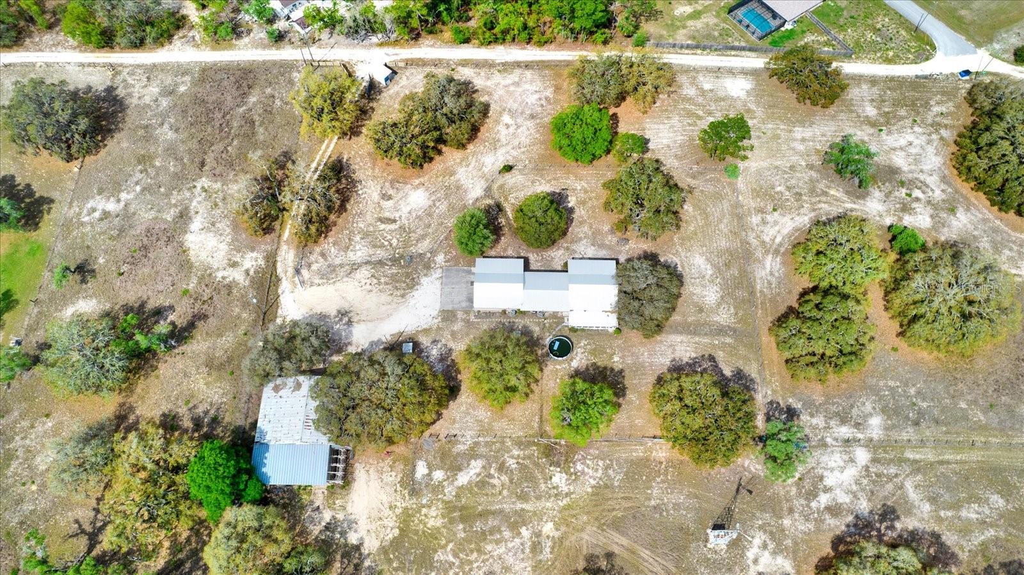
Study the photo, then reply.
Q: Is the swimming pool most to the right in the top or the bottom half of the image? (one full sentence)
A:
You can find the swimming pool most to the right in the top half.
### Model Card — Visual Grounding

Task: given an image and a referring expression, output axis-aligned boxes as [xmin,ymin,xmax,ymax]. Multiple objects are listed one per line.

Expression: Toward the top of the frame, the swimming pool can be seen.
[741,7,773,32]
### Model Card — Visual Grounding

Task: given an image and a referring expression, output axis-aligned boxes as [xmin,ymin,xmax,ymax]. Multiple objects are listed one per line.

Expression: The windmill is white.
[709,525,753,547]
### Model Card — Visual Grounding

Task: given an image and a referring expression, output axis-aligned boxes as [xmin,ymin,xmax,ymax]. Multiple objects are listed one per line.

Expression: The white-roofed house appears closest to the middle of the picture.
[473,258,618,336]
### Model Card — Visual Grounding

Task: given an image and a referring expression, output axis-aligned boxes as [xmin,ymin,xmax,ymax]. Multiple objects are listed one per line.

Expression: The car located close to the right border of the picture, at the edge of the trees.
[959,68,975,80]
